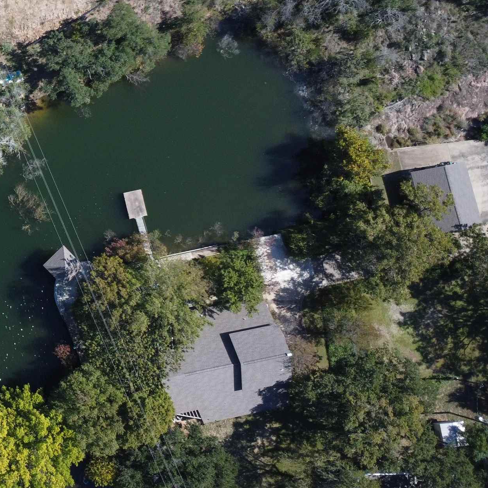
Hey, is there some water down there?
Yes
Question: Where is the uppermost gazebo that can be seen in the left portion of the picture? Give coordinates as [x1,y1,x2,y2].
[42,246,81,281]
